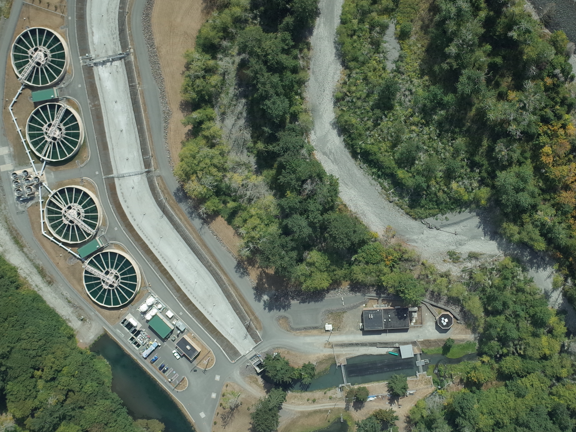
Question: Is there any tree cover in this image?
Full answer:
Yes, some tree cover is visible.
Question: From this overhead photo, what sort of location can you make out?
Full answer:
The picture captures an industrial area.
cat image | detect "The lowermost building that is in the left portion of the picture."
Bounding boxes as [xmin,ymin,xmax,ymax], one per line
[175,337,200,360]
